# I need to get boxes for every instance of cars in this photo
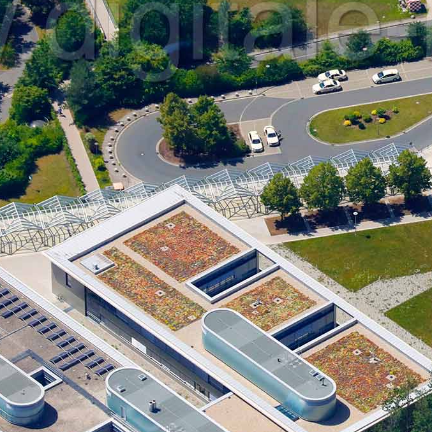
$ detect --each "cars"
[264,126,284,145]
[312,79,342,93]
[248,132,262,151]
[320,67,348,81]
[373,67,398,83]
